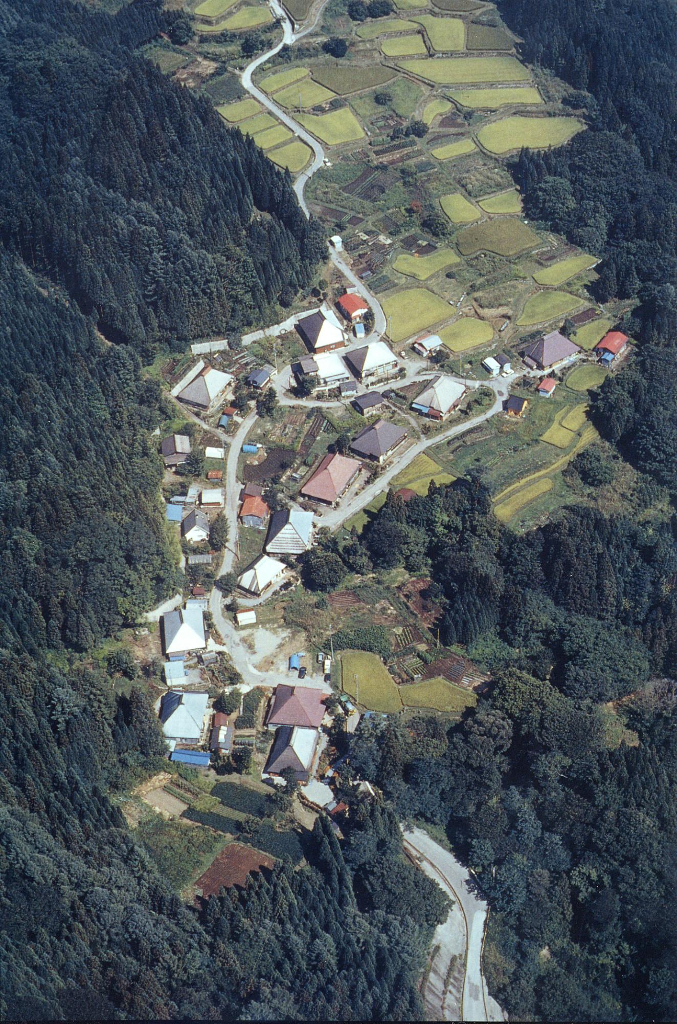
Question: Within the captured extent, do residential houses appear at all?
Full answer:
Yes, a residential house appears in the view.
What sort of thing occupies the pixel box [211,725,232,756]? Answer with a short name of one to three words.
shed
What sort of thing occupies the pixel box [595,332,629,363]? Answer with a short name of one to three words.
barn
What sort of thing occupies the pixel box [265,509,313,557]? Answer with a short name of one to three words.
house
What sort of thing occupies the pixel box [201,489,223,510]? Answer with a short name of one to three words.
building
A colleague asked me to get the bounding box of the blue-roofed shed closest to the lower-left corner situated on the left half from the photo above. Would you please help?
[171,750,212,771]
